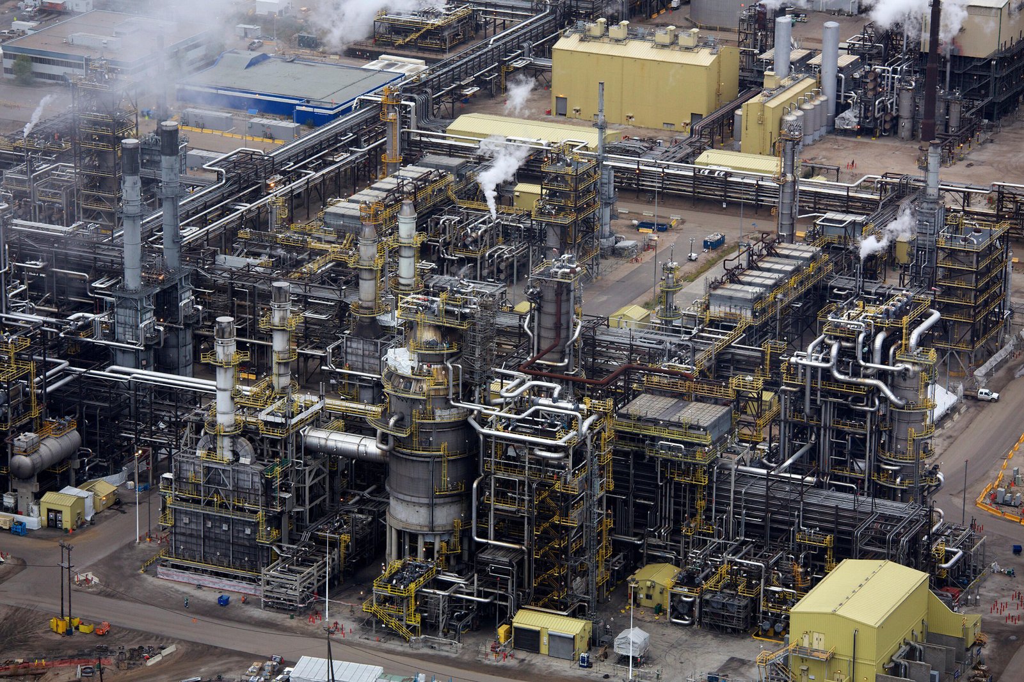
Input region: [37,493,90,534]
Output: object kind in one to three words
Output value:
shed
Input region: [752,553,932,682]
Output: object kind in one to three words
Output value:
building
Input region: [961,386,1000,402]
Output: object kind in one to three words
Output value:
vehicle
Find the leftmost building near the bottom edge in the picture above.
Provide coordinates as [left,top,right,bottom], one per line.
[510,609,591,660]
